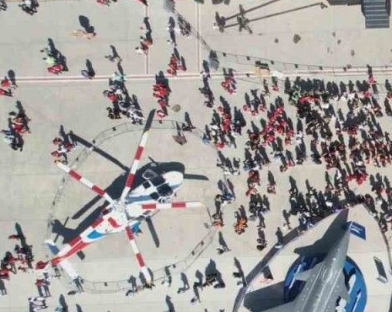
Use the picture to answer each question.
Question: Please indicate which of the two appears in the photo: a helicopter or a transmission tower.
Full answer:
Of the two, only a helicopter appears.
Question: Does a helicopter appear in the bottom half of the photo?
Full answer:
Yes, looking in the bottom half of the photo, one can make out a helicopter.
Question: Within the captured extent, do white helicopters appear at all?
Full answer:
Yes, there's a white helicopter here.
